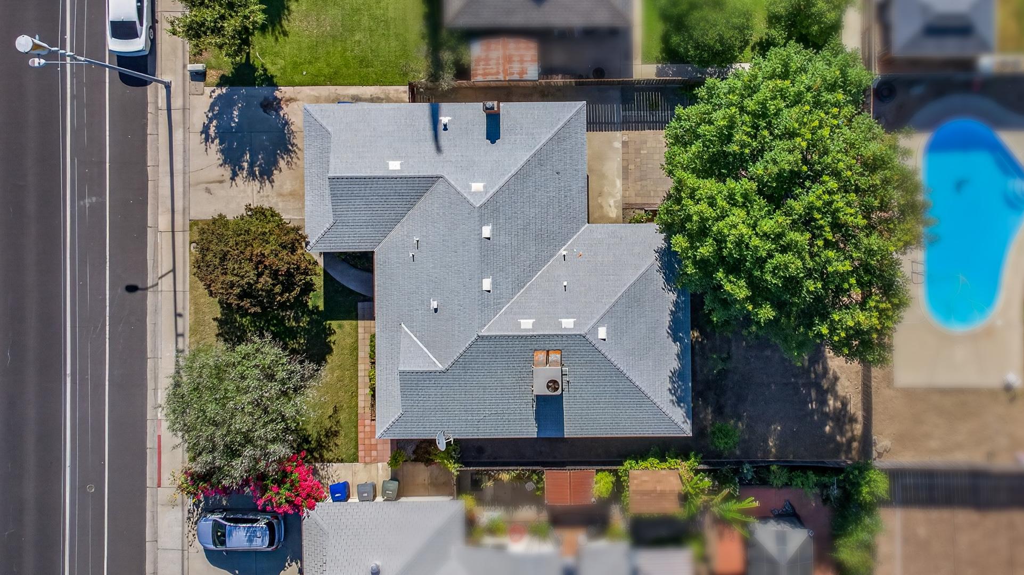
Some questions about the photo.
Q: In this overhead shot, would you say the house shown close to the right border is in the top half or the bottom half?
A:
top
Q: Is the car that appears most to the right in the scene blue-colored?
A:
Yes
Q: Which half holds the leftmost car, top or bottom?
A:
top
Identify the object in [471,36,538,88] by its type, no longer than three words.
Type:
shed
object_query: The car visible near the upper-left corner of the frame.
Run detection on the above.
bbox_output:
[108,0,156,56]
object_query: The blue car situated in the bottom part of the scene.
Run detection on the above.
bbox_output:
[197,509,288,559]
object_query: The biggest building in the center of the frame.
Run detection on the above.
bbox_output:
[303,97,693,440]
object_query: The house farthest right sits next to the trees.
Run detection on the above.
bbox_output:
[878,0,997,58]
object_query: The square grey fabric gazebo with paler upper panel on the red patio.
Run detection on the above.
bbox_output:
[737,506,813,575]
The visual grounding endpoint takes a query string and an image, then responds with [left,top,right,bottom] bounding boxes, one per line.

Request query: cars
[197,509,288,559]
[108,0,156,56]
